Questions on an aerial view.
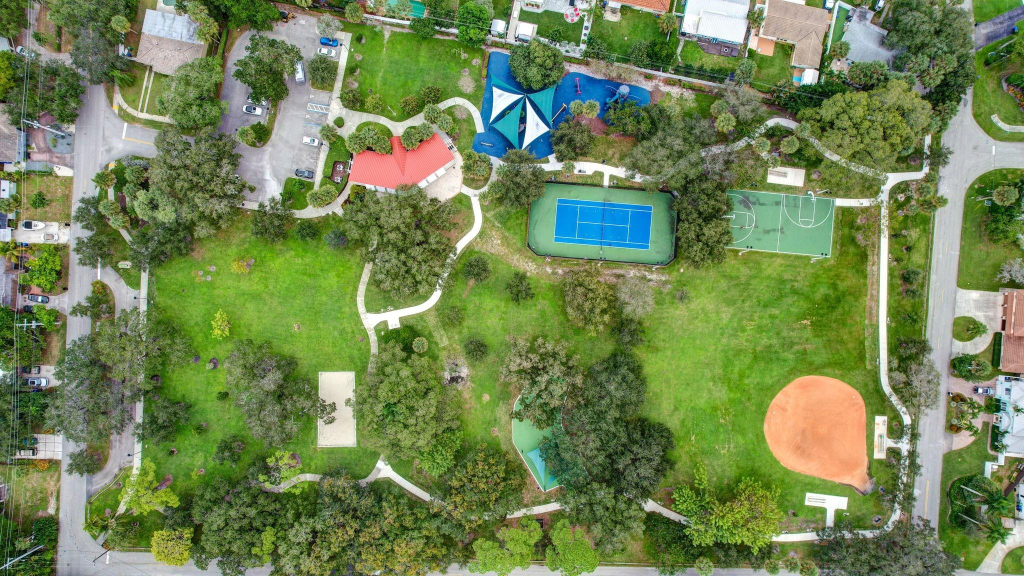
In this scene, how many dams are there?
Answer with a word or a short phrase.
0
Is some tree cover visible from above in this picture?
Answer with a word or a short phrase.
Yes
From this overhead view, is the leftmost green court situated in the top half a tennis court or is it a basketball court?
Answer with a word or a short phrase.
tennis court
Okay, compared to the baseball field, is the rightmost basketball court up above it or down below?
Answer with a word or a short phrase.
above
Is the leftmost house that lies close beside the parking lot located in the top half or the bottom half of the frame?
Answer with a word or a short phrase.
top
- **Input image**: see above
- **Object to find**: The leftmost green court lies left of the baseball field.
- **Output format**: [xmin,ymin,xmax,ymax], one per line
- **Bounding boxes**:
[512,376,587,491]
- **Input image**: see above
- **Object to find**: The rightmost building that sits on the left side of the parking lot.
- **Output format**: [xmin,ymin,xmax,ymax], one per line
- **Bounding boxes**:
[136,9,207,75]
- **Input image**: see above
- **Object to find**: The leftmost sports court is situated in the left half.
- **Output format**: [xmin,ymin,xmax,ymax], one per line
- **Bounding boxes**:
[317,371,356,447]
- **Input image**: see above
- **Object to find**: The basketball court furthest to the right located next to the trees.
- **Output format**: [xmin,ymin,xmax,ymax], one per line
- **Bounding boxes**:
[723,189,835,258]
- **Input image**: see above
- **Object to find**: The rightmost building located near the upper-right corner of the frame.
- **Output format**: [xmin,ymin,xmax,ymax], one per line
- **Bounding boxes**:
[840,7,903,71]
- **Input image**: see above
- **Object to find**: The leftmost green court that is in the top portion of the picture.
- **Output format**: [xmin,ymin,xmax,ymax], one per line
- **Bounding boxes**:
[528,181,680,265]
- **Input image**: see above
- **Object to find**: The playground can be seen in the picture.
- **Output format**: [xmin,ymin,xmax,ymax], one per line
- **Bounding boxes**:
[473,51,650,159]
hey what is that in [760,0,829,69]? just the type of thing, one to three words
house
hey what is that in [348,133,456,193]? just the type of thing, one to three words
building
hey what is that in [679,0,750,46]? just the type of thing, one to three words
house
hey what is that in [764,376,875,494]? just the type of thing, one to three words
baseball field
